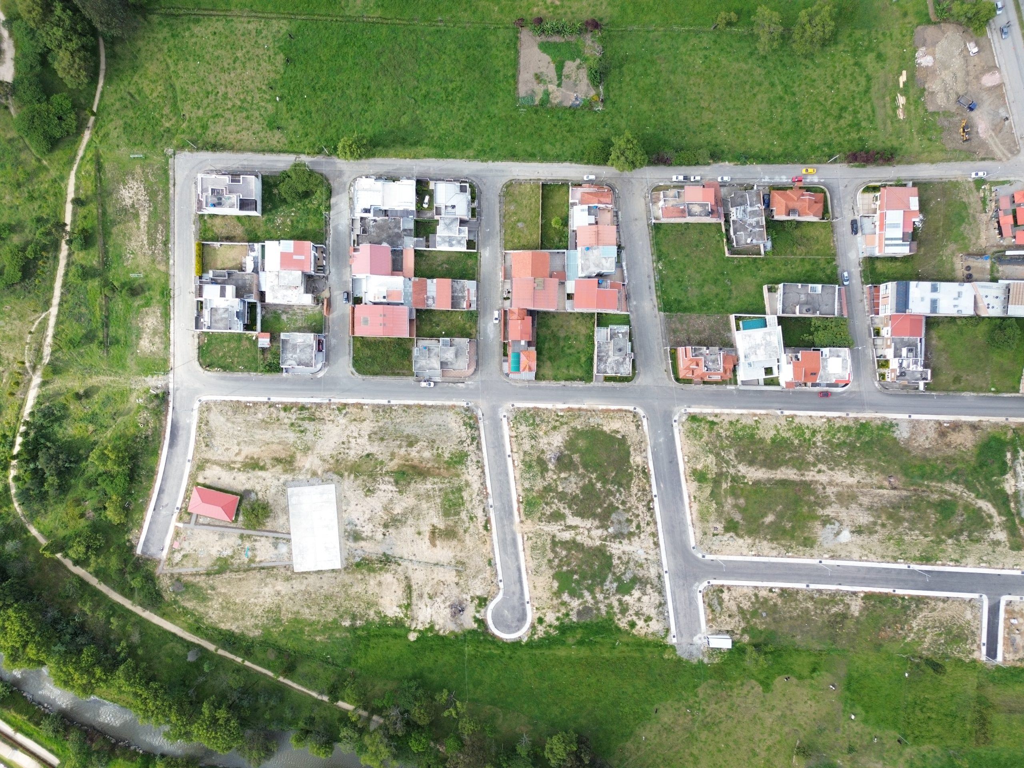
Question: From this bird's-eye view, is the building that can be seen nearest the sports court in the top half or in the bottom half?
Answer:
bottom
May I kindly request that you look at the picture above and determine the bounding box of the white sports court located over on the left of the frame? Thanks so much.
[288,485,341,572]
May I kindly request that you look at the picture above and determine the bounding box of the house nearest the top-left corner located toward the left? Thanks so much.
[195,174,262,216]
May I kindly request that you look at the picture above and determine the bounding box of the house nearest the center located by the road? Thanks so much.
[503,341,536,380]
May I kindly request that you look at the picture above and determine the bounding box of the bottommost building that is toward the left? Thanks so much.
[187,486,242,522]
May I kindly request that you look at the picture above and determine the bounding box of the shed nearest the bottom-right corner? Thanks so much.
[706,633,732,648]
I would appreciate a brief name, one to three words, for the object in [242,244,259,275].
shed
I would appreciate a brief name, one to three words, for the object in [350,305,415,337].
house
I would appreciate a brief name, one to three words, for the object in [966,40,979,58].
vehicle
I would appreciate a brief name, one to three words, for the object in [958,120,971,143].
vehicle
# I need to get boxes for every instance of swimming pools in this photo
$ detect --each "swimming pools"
[741,317,768,331]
